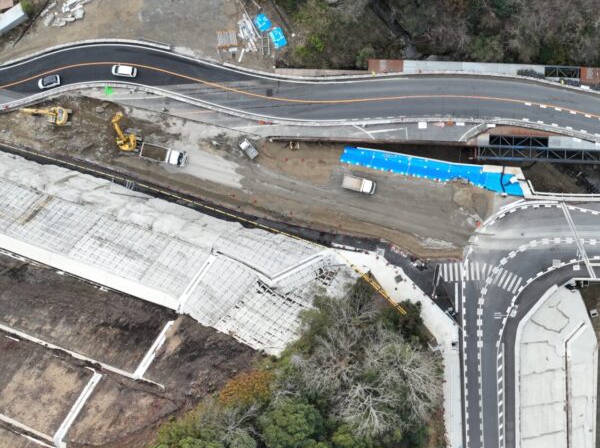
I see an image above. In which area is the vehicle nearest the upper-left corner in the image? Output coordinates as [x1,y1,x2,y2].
[35,74,59,88]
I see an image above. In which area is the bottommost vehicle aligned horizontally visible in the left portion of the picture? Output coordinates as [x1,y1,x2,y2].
[131,140,187,168]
